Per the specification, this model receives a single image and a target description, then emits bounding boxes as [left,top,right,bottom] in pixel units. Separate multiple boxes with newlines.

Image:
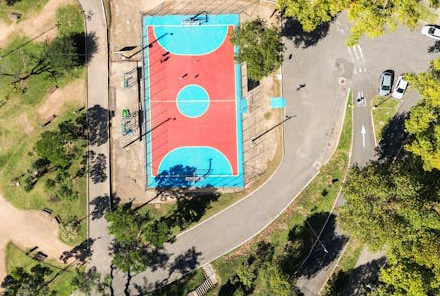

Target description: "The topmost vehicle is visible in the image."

[420,24,440,40]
